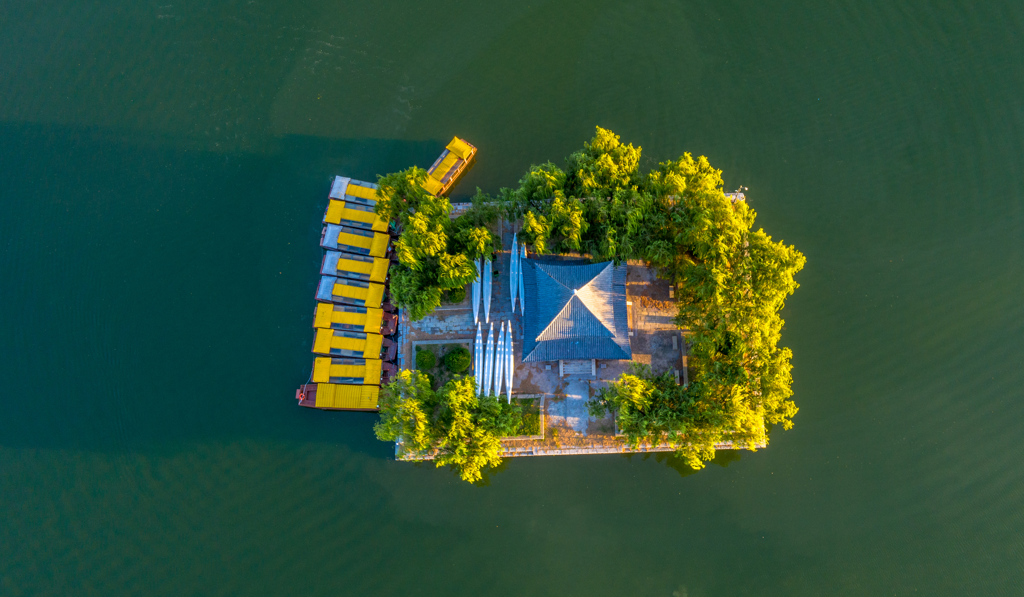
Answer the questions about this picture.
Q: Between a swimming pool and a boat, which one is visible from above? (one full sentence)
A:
Visible in the photo is a boat.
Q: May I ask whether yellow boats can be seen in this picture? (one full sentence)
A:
Yes, looking at the shot, I can spot a yellow boat.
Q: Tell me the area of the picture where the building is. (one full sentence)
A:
Look in the center portion of the view to spot the building.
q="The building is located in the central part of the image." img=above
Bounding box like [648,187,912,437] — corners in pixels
[522,256,637,376]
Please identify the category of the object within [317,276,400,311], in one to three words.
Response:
boat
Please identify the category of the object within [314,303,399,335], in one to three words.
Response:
boat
